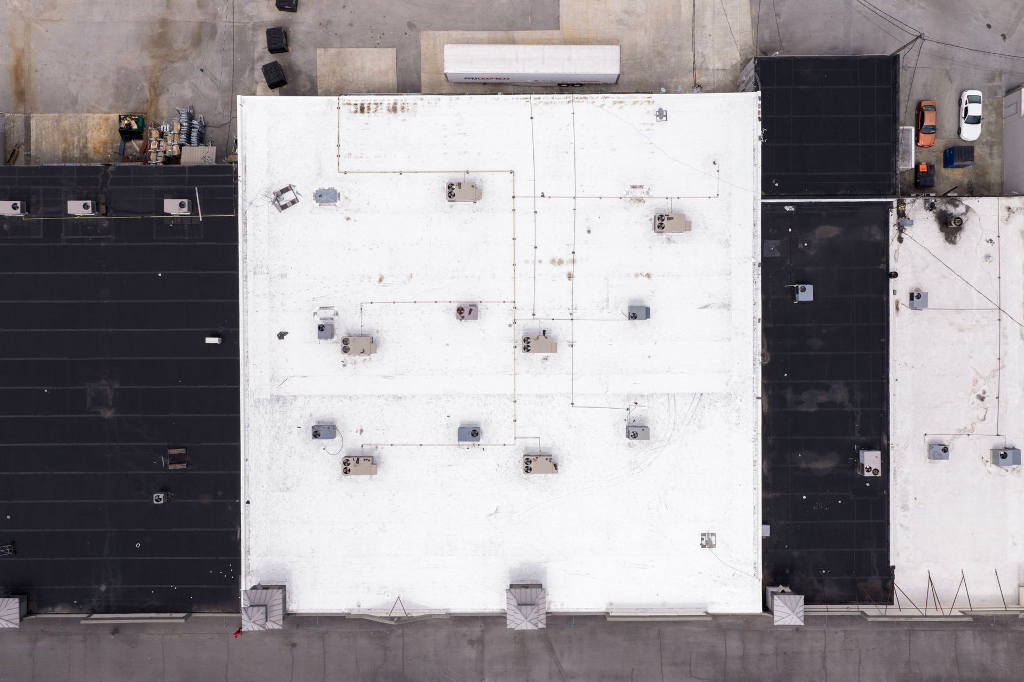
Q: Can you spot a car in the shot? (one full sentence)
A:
Yes, there's a car here.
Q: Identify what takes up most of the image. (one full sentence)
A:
The bulk of the photo consists of buildings.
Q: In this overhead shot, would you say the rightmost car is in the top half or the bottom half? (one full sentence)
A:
You can find the rightmost car in the top half.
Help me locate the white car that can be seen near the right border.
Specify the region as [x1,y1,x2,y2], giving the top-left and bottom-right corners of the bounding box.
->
[955,91,984,142]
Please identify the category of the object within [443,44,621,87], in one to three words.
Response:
trailer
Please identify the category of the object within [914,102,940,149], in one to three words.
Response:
car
